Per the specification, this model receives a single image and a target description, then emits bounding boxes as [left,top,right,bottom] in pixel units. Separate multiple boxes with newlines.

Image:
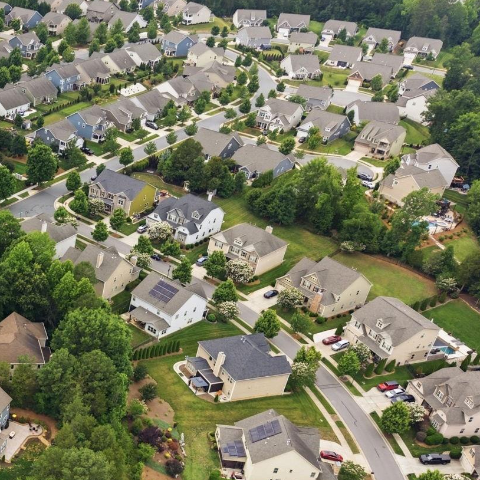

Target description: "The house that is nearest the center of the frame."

[196,222,283,289]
